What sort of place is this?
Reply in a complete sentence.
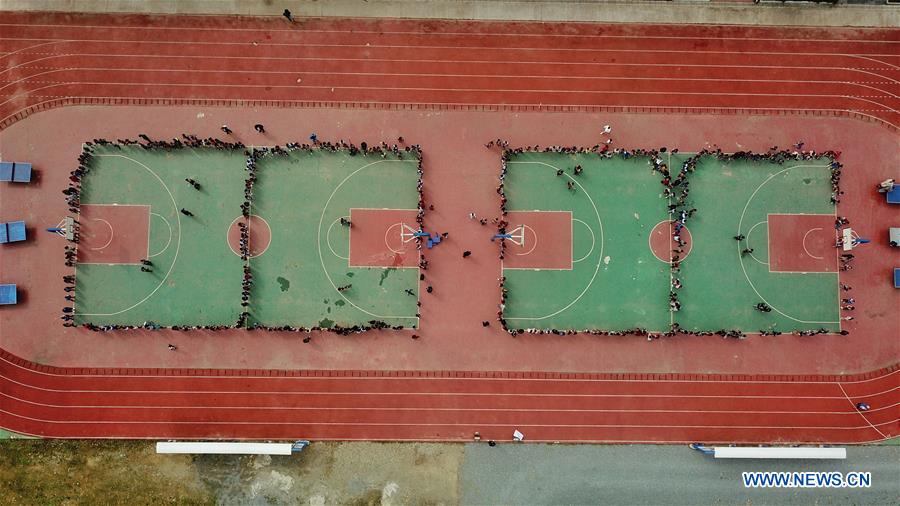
The area seen from above is a sports ground.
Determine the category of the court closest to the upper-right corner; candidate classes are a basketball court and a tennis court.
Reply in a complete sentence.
Specifically, the court closest to the upper-right corner is a basketball court.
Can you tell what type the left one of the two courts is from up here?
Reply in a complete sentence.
What you see as the left one of the two courts is a basketball court.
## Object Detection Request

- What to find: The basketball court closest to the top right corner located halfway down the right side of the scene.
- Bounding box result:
[503,150,840,334]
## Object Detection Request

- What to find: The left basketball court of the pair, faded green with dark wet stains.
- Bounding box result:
[73,143,421,329]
